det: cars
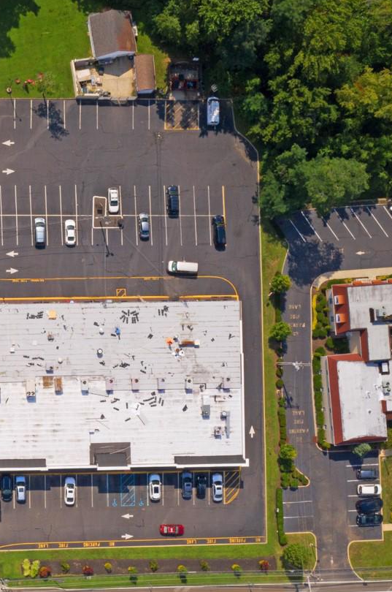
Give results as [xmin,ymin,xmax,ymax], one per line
[166,184,180,216]
[148,474,162,502]
[64,476,77,505]
[212,216,226,248]
[158,524,185,538]
[354,484,383,496]
[353,499,383,513]
[138,212,150,241]
[14,475,26,502]
[0,475,13,502]
[353,513,384,527]
[179,472,194,500]
[64,218,77,245]
[210,473,224,501]
[107,186,121,213]
[194,473,208,498]
[354,467,378,480]
[33,217,46,248]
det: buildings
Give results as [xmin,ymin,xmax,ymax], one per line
[319,277,392,446]
[86,8,142,61]
[131,53,155,96]
[0,300,252,475]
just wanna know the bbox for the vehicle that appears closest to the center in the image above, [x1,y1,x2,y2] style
[167,261,200,274]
